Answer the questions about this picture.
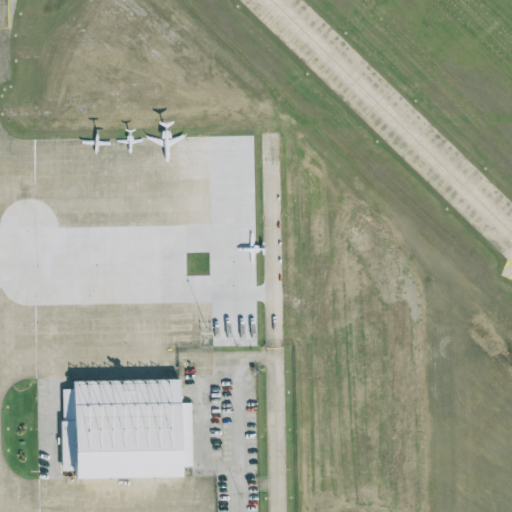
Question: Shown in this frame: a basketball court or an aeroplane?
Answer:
aeroplane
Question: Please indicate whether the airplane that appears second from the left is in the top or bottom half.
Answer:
top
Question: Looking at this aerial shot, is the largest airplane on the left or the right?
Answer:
left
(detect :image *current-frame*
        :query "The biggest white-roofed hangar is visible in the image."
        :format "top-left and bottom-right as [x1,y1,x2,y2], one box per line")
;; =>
[60,380,194,478]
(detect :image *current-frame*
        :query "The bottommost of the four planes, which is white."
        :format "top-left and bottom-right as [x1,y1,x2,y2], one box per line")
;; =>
[238,233,266,266]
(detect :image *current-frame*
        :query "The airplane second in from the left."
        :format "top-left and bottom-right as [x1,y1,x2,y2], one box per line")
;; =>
[117,128,142,153]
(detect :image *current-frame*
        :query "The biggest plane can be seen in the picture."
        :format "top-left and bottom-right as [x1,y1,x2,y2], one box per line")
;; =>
[146,121,187,162]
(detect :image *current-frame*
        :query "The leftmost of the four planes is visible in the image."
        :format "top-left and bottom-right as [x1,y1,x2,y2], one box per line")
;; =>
[82,128,112,155]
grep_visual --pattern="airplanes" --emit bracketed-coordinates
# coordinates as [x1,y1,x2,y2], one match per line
[82,128,112,155]
[146,121,187,162]
[238,233,266,266]
[117,128,142,153]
